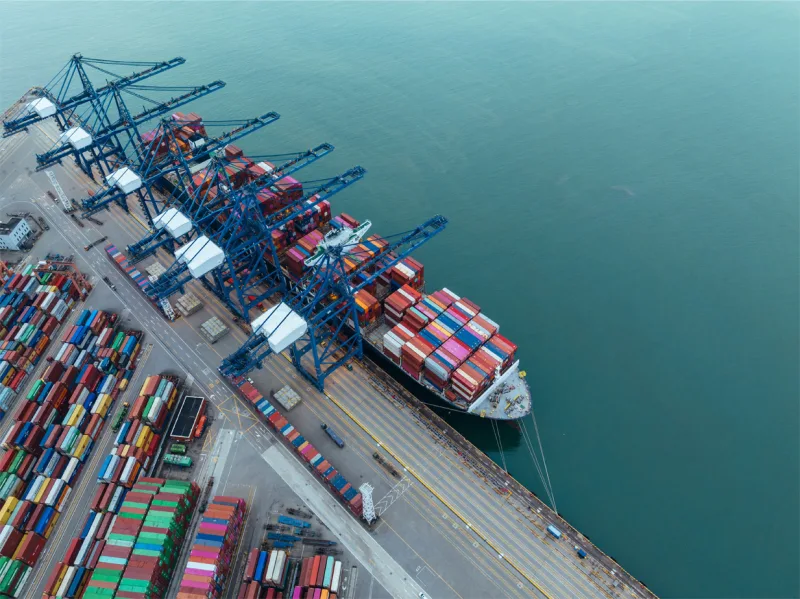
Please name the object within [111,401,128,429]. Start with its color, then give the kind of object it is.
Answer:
green vehicle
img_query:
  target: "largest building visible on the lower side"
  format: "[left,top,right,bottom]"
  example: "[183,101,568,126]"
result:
[169,394,208,444]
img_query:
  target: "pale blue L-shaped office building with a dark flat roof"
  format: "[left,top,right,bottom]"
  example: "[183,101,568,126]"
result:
[0,217,31,247]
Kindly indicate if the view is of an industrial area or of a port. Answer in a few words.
port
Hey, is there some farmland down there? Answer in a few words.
No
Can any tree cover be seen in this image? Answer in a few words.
No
